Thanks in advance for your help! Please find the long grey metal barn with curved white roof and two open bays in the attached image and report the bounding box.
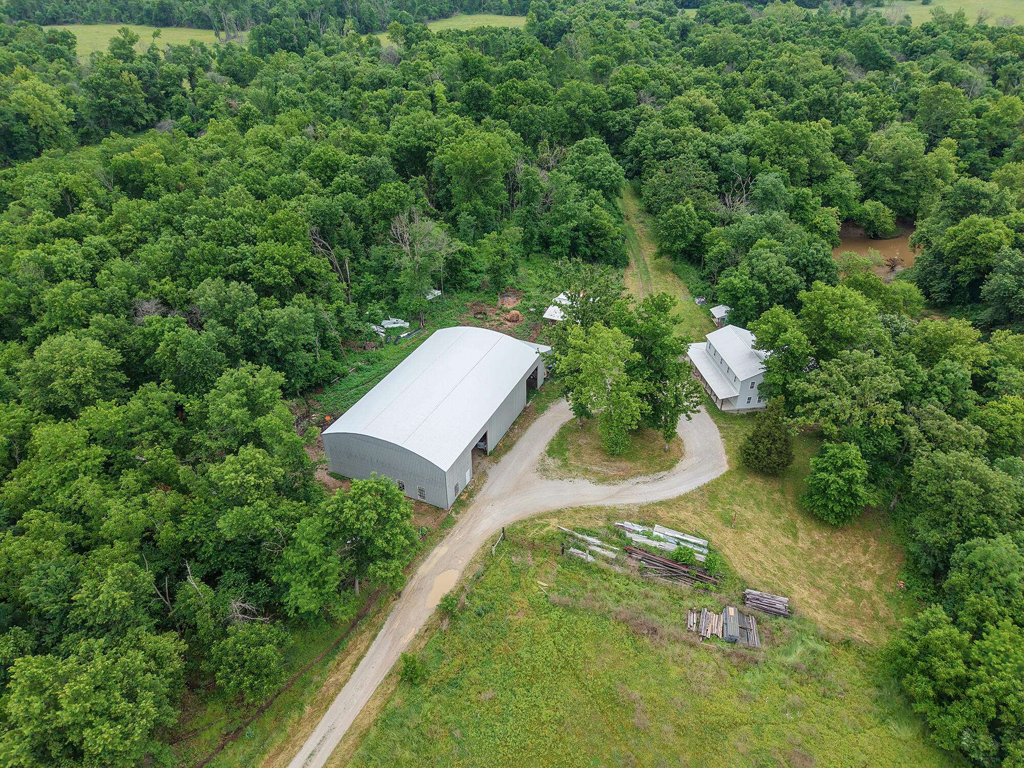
[318,324,552,508]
